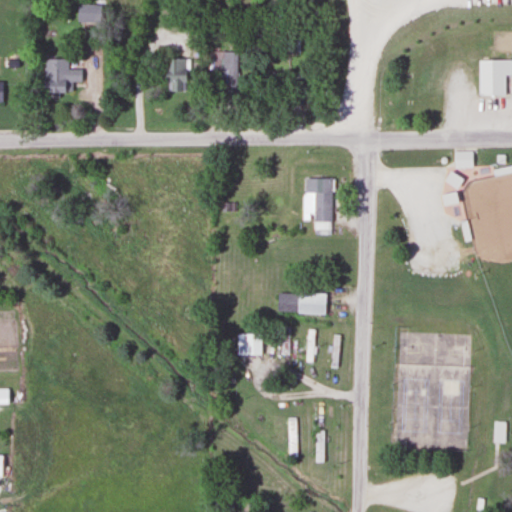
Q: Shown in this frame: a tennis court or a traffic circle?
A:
tennis court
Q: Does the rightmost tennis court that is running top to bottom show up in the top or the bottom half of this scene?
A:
bottom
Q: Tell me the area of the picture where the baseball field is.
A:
right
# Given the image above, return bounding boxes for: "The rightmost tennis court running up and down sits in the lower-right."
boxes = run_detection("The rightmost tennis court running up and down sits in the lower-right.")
[430,366,470,448]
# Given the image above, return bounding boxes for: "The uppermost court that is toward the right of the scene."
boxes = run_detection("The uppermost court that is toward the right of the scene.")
[397,333,472,366]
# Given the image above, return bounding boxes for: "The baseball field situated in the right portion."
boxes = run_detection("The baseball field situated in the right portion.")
[465,174,512,262]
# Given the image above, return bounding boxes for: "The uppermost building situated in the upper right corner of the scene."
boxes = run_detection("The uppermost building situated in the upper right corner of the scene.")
[480,60,512,99]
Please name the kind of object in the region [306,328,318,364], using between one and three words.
house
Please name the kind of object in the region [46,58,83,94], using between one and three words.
house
